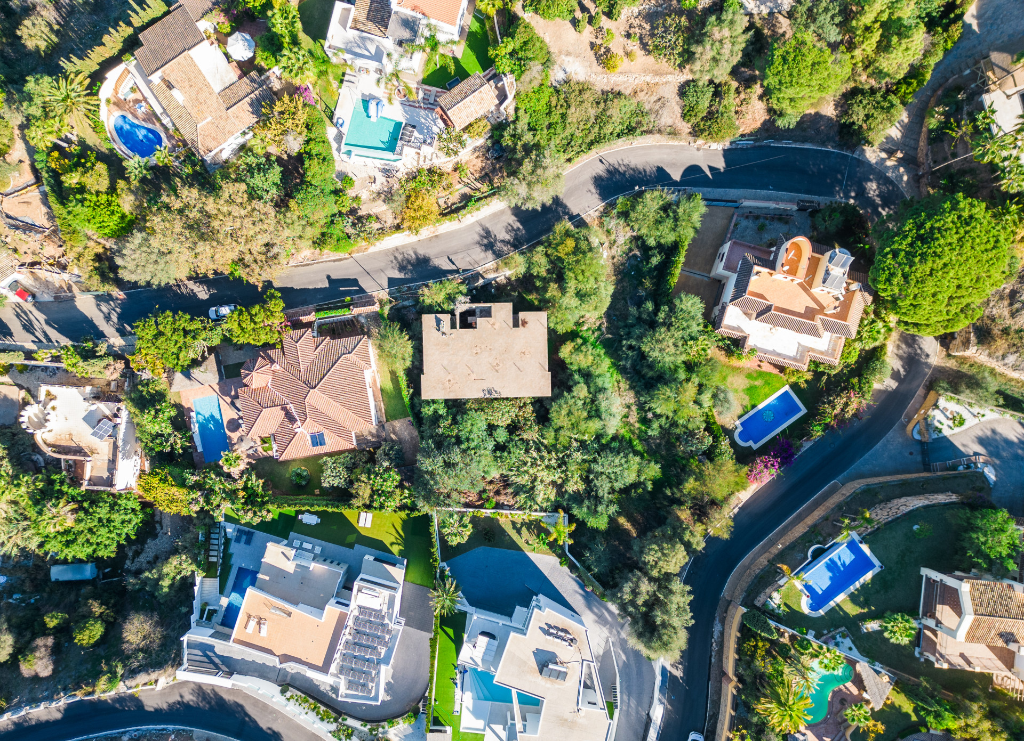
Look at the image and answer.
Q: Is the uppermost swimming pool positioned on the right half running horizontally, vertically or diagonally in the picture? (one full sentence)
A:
In this picture, the uppermost swimming pool positioned on the right half lies diagonally.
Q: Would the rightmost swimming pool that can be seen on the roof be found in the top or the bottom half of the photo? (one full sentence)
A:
You can find the rightmost swimming pool that can be seen on the roof in the bottom half.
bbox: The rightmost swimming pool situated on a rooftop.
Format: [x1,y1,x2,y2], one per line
[461,664,539,705]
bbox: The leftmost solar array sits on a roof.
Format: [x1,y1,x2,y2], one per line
[88,415,121,444]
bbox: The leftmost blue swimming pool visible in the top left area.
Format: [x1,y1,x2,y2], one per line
[110,110,167,163]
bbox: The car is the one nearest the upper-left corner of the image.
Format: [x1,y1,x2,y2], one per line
[8,282,36,304]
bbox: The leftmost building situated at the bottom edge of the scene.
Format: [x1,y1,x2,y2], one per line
[230,532,413,705]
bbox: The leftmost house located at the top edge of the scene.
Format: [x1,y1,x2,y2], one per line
[134,0,278,176]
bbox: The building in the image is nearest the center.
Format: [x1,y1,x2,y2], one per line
[421,303,551,399]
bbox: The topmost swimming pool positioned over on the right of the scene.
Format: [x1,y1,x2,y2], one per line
[732,384,809,450]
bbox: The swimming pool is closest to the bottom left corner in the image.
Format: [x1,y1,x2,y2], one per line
[221,567,258,631]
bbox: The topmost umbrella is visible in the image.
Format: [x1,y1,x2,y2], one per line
[226,31,257,62]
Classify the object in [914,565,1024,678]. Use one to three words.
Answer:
house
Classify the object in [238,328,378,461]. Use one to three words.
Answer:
house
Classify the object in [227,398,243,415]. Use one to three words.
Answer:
umbrella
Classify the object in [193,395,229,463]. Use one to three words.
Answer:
swimming pool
